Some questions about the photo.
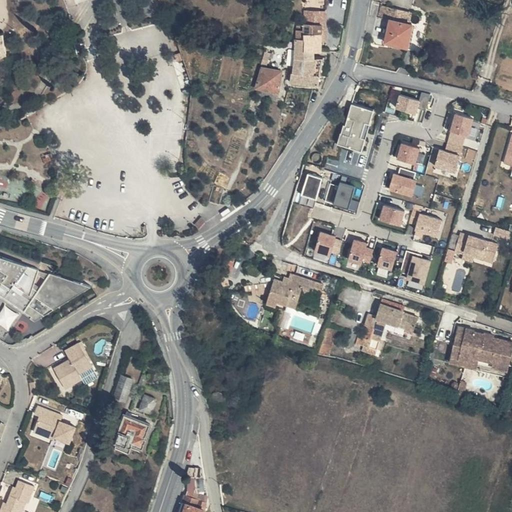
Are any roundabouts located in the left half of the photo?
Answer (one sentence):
Yes, you'll find a roundabout in the left half of the photo.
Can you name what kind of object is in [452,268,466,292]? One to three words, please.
swimming pool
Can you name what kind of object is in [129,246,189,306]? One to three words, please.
roundabout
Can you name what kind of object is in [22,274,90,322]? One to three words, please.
building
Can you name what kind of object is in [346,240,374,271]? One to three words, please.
house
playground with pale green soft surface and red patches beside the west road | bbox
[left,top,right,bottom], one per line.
[0,176,48,214]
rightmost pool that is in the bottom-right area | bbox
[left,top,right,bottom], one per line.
[474,378,493,392]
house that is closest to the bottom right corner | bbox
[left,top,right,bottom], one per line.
[450,326,512,376]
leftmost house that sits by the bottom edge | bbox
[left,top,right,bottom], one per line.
[0,482,34,512]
